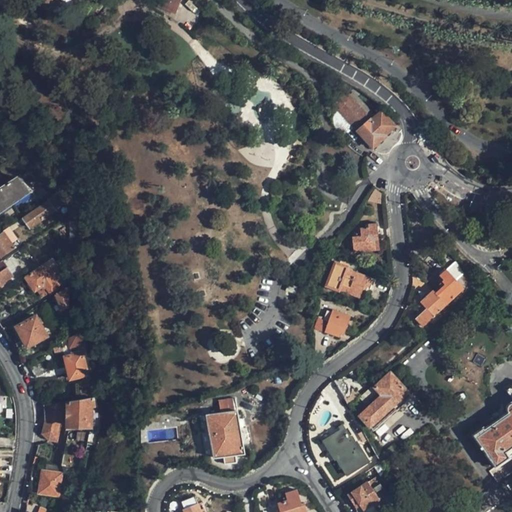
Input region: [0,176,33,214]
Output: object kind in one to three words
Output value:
building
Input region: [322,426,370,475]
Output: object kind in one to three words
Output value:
building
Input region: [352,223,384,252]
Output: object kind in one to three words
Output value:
house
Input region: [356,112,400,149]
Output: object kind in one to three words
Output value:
house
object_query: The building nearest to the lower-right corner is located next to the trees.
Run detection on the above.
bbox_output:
[473,404,512,484]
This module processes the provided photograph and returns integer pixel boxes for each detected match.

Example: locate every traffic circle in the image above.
[366,139,469,199]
